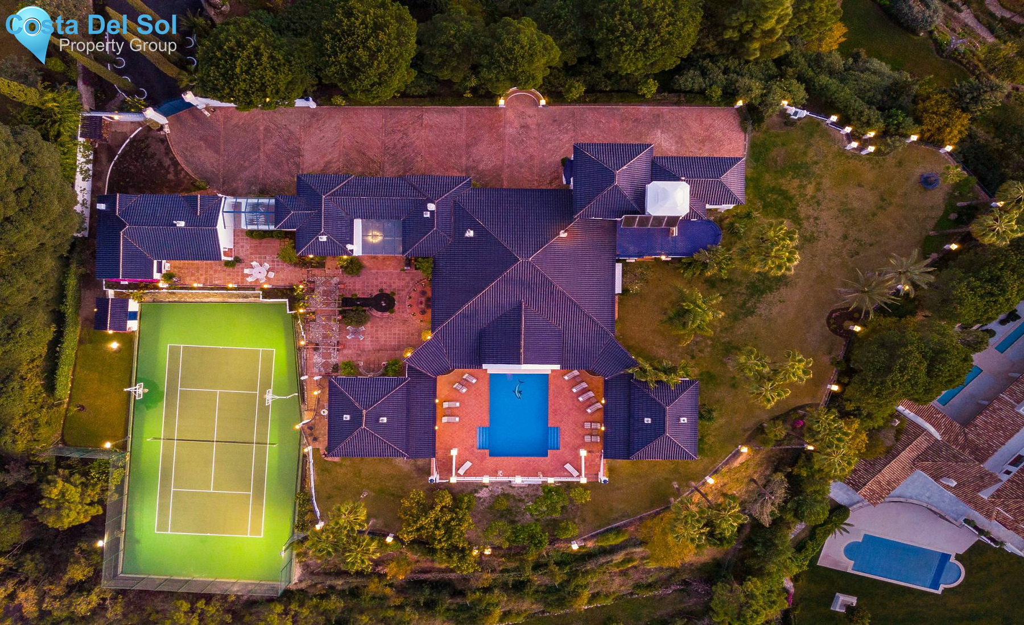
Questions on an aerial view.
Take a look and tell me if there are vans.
No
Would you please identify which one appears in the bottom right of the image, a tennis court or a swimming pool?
swimming pool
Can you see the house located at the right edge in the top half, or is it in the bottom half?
bottom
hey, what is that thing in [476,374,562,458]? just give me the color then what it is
blue swimming pool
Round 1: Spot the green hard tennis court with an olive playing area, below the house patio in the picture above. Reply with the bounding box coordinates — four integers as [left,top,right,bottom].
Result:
[122,301,304,583]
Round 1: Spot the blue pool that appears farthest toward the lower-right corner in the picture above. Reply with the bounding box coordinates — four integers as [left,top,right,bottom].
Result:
[839,531,965,593]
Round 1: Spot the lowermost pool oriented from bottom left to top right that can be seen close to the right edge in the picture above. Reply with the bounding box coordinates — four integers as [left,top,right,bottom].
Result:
[948,364,984,404]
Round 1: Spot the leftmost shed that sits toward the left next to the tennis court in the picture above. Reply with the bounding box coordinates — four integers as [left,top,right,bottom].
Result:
[93,291,149,331]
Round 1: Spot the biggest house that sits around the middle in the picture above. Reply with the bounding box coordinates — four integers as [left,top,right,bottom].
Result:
[274,142,746,460]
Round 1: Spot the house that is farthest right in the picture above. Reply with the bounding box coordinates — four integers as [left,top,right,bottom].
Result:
[839,376,1024,539]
